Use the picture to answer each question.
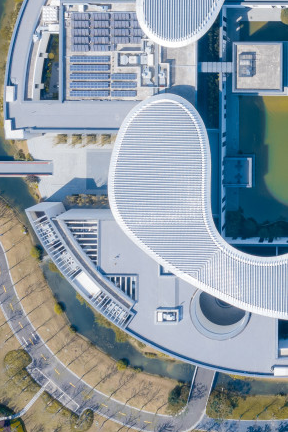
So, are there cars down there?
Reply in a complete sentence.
No, the picture doesn't show any car.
